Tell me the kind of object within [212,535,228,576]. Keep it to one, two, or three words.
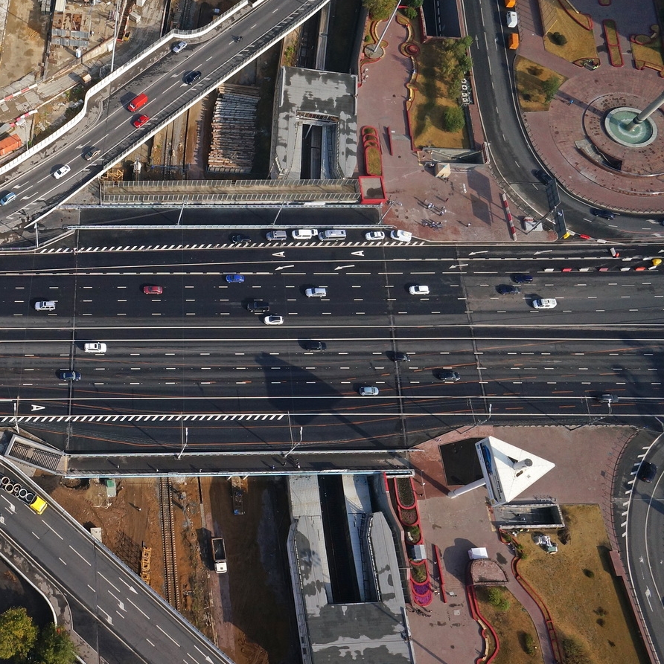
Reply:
vehicle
